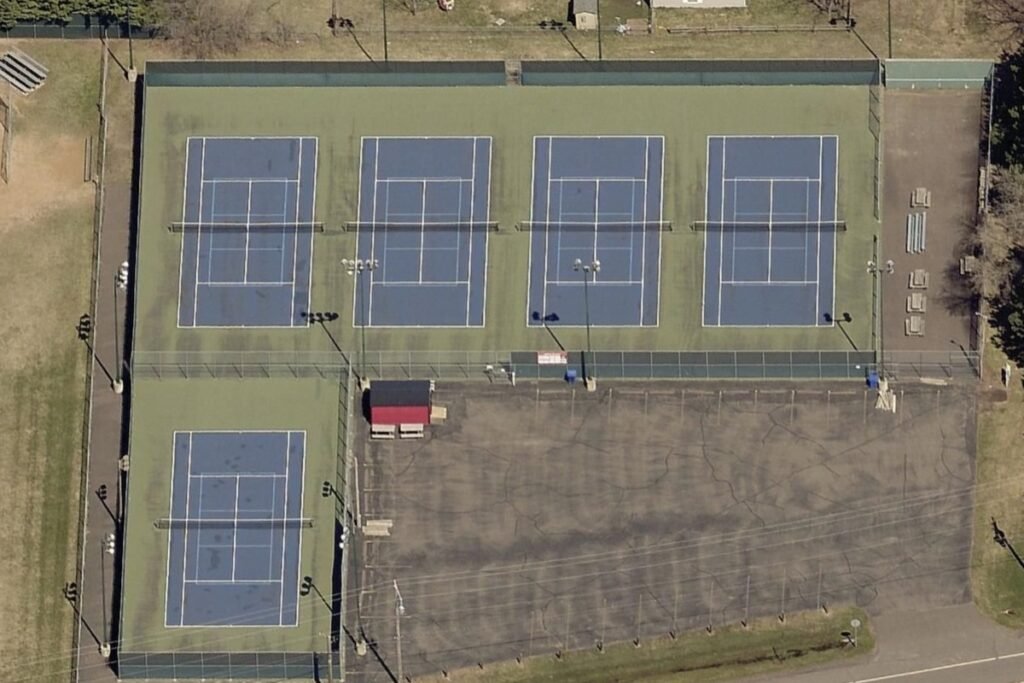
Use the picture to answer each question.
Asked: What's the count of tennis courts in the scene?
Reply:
5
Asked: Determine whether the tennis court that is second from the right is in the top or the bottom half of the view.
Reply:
top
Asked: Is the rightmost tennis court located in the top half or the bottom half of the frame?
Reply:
top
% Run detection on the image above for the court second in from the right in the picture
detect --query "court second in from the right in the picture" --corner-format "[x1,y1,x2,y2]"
[528,136,664,327]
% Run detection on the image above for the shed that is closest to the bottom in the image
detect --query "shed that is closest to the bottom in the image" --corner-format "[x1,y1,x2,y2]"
[369,380,437,426]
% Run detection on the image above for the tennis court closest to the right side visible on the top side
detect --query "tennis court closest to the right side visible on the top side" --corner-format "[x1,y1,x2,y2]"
[703,136,837,326]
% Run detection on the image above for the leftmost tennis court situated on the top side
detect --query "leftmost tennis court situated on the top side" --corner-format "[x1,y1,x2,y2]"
[178,137,317,327]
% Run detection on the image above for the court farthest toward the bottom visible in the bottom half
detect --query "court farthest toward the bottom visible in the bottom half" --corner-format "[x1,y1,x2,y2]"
[165,431,306,626]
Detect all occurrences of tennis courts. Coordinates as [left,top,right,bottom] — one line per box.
[178,137,317,327]
[353,137,491,327]
[165,431,306,626]
[528,136,664,327]
[703,136,837,326]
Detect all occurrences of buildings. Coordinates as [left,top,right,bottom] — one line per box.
[653,0,746,8]
[573,0,598,29]
[369,380,437,426]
